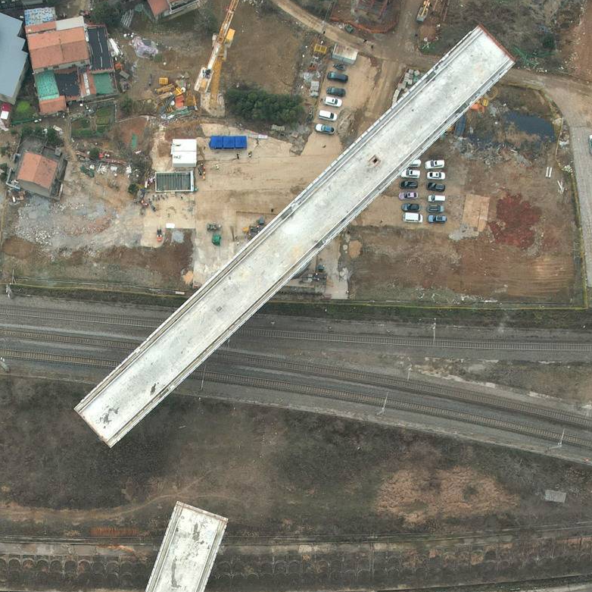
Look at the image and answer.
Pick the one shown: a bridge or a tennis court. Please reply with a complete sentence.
Looking from above, you can make out a bridge.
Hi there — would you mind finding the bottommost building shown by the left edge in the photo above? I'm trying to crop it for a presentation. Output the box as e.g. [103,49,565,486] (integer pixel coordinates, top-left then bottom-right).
[18,151,59,193]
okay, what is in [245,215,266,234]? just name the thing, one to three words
vehicle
